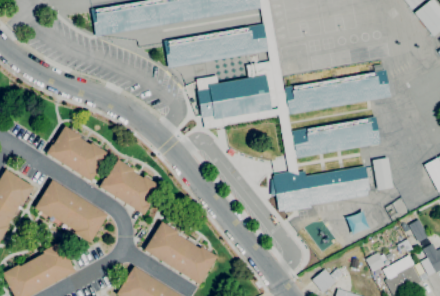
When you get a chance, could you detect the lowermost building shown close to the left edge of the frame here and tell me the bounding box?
[4,247,74,296]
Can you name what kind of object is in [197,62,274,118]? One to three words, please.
building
